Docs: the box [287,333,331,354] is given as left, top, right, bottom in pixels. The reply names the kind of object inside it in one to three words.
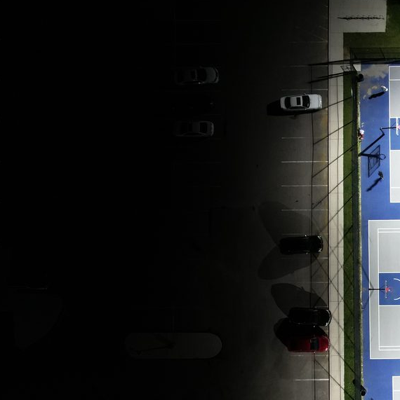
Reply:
car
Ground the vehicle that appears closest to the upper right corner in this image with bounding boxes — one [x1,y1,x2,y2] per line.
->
[279,93,324,114]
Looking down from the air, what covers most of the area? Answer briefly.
paved ground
